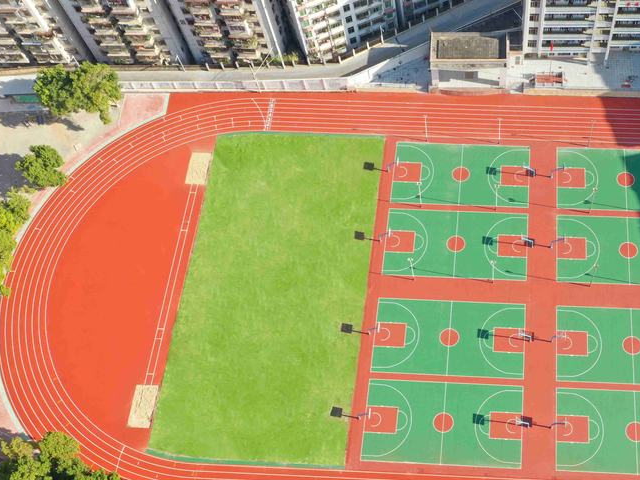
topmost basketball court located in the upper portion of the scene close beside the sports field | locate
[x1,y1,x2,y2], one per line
[390,142,529,207]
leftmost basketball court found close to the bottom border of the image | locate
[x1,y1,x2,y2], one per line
[361,379,524,469]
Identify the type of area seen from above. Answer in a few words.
sports ground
